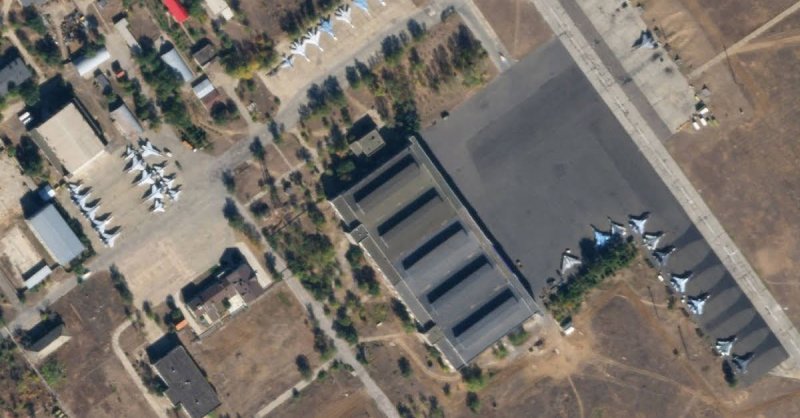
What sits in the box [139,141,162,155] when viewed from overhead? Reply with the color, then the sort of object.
white airplane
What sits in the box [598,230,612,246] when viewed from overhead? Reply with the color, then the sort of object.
blue airplane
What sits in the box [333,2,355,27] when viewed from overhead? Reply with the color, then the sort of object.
white airplane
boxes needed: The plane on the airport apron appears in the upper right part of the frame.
[637,30,658,47]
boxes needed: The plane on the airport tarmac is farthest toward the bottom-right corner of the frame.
[730,352,752,371]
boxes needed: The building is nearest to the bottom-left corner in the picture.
[27,324,63,354]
